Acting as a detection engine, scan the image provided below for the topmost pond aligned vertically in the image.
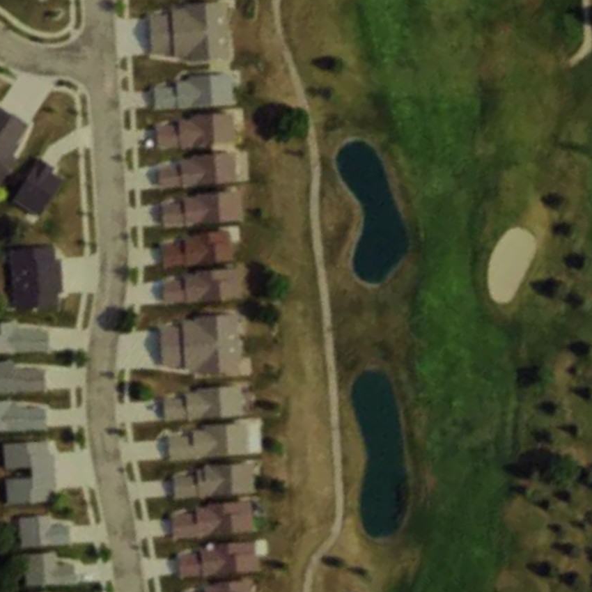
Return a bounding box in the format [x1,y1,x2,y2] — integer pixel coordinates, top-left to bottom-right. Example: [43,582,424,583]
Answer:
[336,141,408,284]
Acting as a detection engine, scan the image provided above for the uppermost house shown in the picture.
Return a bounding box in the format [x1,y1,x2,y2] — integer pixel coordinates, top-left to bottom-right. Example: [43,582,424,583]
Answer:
[151,0,237,71]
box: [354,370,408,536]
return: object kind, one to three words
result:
pond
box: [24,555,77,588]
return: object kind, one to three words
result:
house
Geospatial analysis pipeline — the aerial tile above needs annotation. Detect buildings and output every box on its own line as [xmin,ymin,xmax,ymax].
[172,461,261,502]
[0,324,48,355]
[24,555,77,588]
[7,244,63,309]
[151,0,237,71]
[160,311,252,377]
[0,110,28,192]
[172,503,254,541]
[153,71,242,112]
[3,441,54,504]
[12,160,61,217]
[162,270,247,307]
[161,226,240,271]
[168,419,262,461]
[163,386,255,423]
[155,109,246,152]
[178,539,269,581]
[0,400,46,433]
[157,151,250,190]
[162,193,244,230]
[17,517,69,548]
